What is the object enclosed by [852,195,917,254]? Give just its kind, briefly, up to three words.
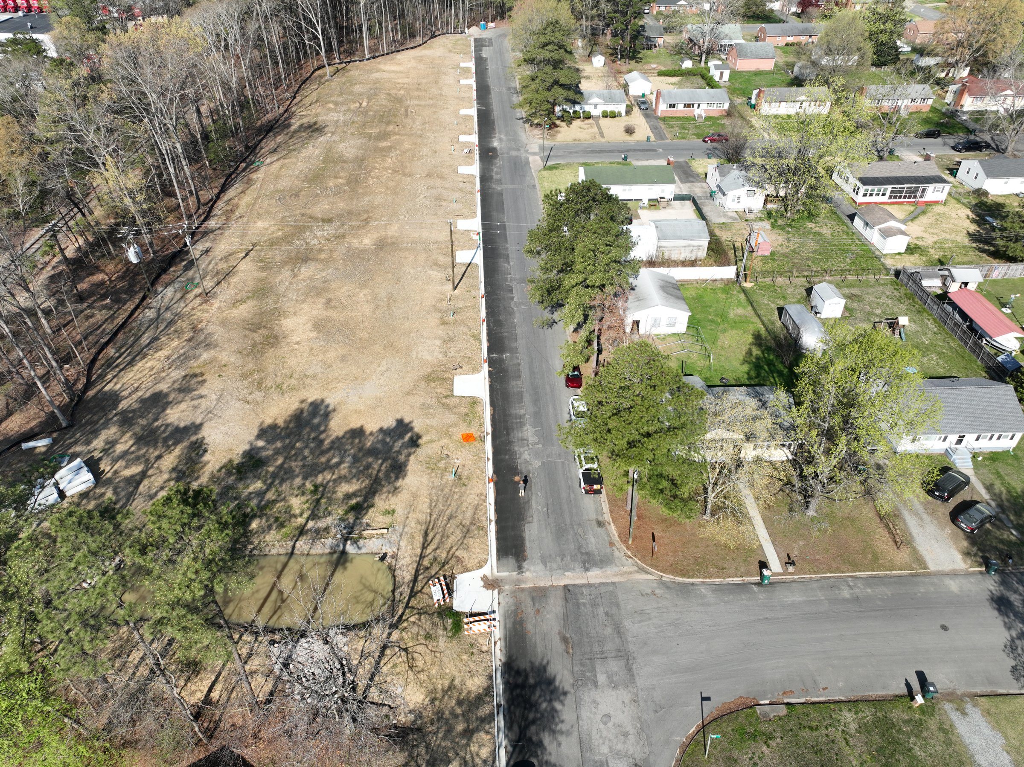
building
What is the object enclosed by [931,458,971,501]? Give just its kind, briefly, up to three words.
car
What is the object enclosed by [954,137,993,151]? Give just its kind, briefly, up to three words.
vehicle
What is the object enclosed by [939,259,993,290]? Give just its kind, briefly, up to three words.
shed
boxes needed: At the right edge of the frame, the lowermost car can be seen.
[958,493,1001,536]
